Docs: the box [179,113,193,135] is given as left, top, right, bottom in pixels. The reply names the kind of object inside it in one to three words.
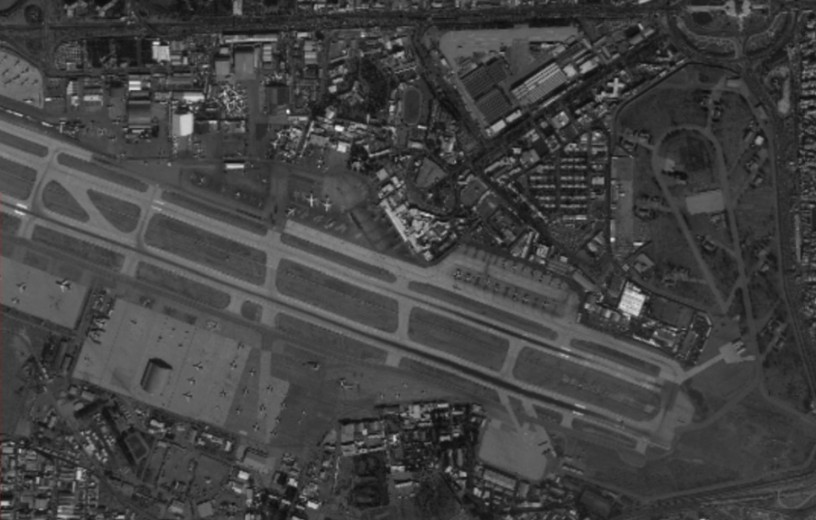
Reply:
hangar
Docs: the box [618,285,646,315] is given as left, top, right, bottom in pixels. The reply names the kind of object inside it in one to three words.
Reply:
building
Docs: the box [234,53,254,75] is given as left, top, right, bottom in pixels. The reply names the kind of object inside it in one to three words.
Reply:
hangar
